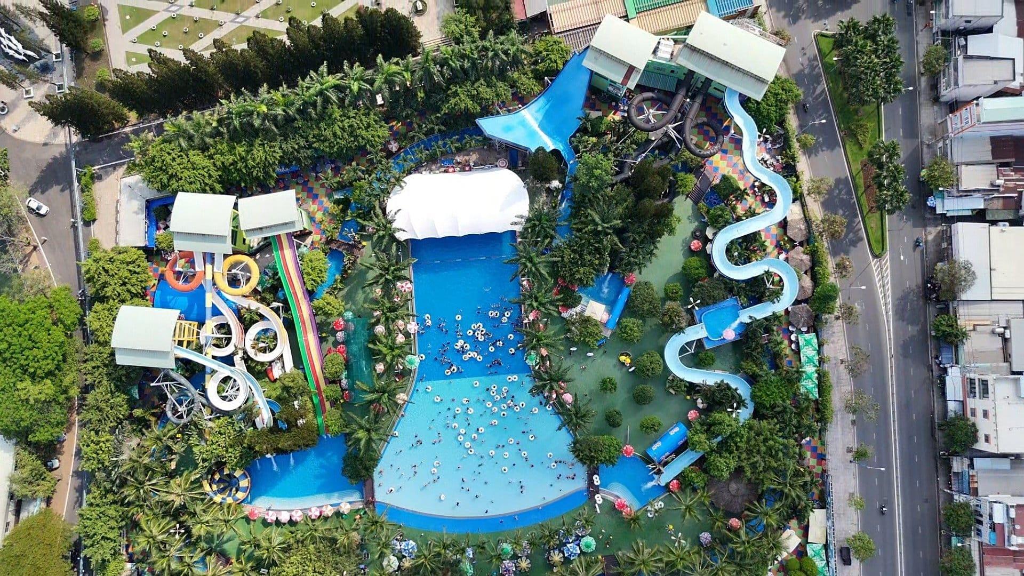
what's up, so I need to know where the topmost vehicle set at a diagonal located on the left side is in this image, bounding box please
[24,197,46,214]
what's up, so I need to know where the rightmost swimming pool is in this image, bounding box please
[692,296,750,350]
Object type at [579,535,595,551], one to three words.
umbrella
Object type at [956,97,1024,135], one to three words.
house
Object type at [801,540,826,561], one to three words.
tent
